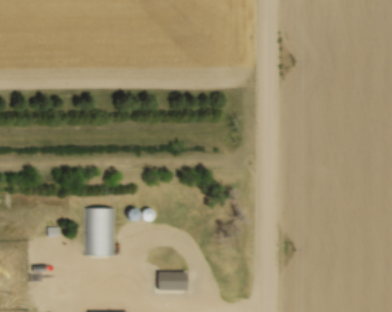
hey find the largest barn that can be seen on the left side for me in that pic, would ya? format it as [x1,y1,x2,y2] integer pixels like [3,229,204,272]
[84,208,115,254]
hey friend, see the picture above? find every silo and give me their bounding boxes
[126,208,142,222]
[141,208,156,222]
